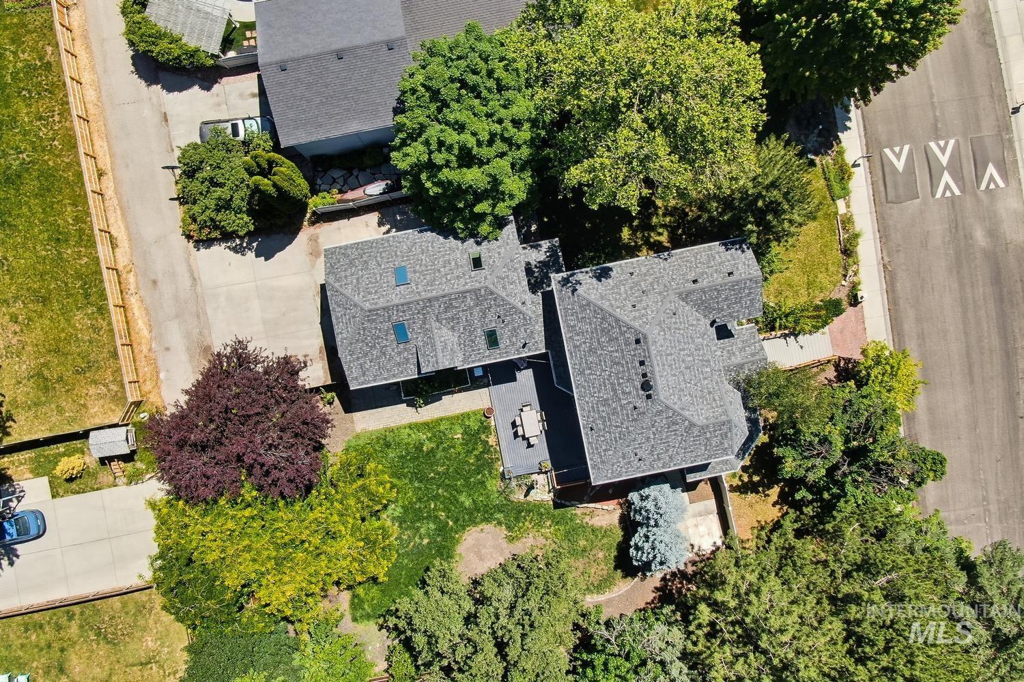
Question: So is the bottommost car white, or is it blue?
blue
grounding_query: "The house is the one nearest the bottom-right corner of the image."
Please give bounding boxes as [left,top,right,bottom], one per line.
[539,236,767,486]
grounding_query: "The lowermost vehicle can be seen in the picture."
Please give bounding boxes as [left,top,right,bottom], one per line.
[0,507,52,546]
